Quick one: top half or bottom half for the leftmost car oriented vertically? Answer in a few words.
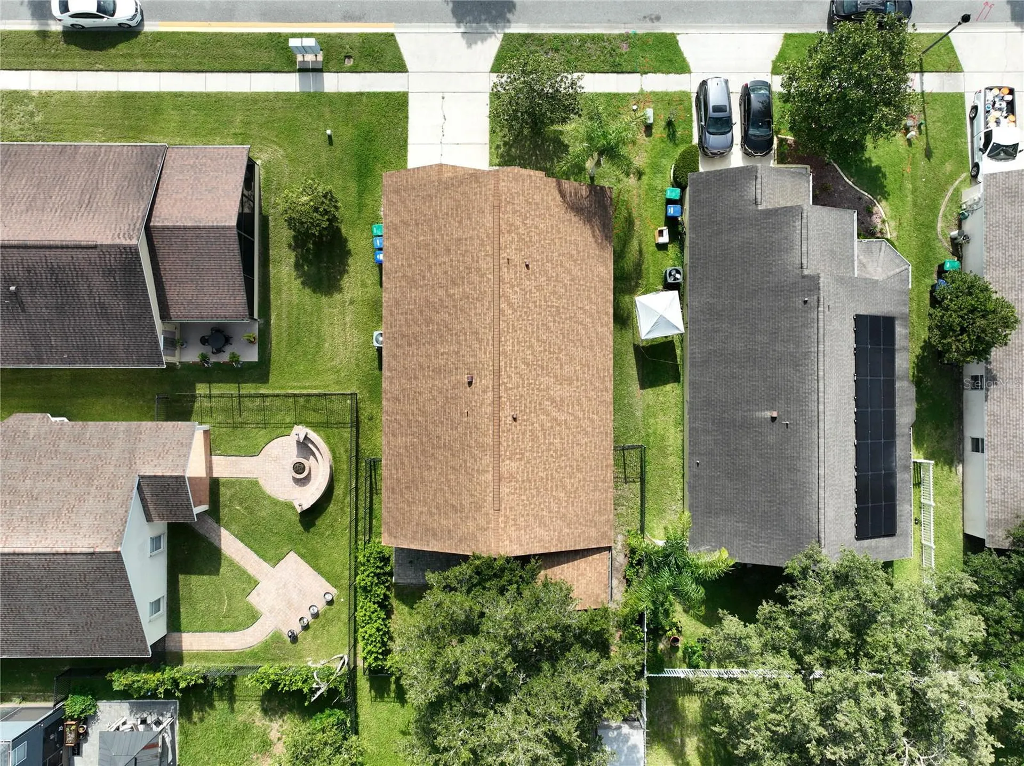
top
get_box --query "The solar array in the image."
[854,314,897,539]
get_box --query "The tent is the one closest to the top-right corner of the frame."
[630,286,684,365]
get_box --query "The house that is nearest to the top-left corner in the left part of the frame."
[0,141,260,369]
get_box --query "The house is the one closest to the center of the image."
[383,164,613,613]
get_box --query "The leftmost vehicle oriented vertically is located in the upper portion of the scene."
[696,78,735,160]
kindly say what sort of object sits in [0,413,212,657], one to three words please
house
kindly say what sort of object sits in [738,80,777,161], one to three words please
car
